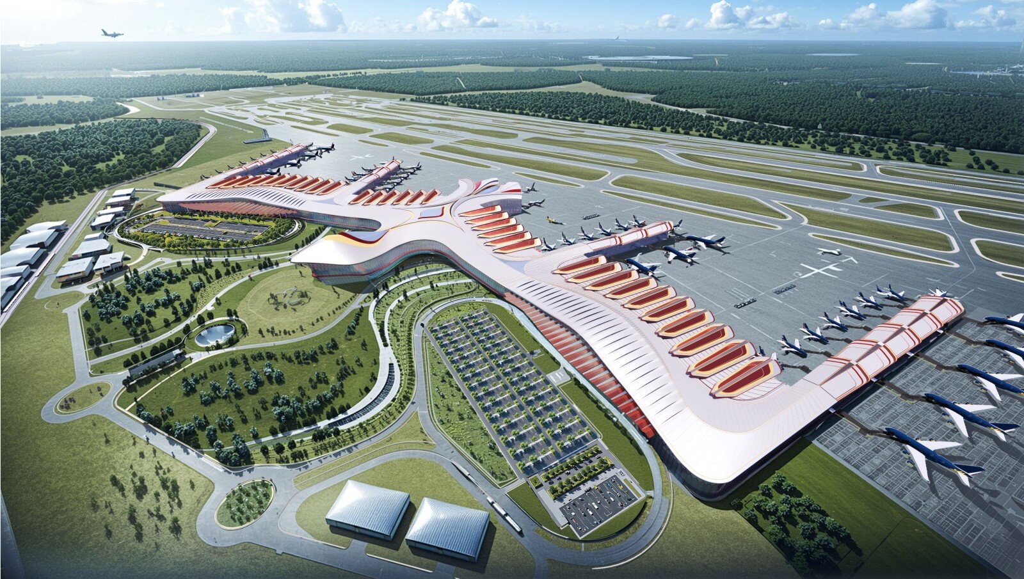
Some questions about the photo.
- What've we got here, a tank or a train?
train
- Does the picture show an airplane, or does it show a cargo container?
airplane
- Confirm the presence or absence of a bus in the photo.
Yes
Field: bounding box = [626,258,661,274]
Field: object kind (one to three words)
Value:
airplane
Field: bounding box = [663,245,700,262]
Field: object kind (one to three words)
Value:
airplane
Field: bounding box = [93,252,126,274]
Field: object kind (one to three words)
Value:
building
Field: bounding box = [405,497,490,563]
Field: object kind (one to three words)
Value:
hangar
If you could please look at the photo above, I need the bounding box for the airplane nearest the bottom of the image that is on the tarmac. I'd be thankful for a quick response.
[886,427,985,482]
